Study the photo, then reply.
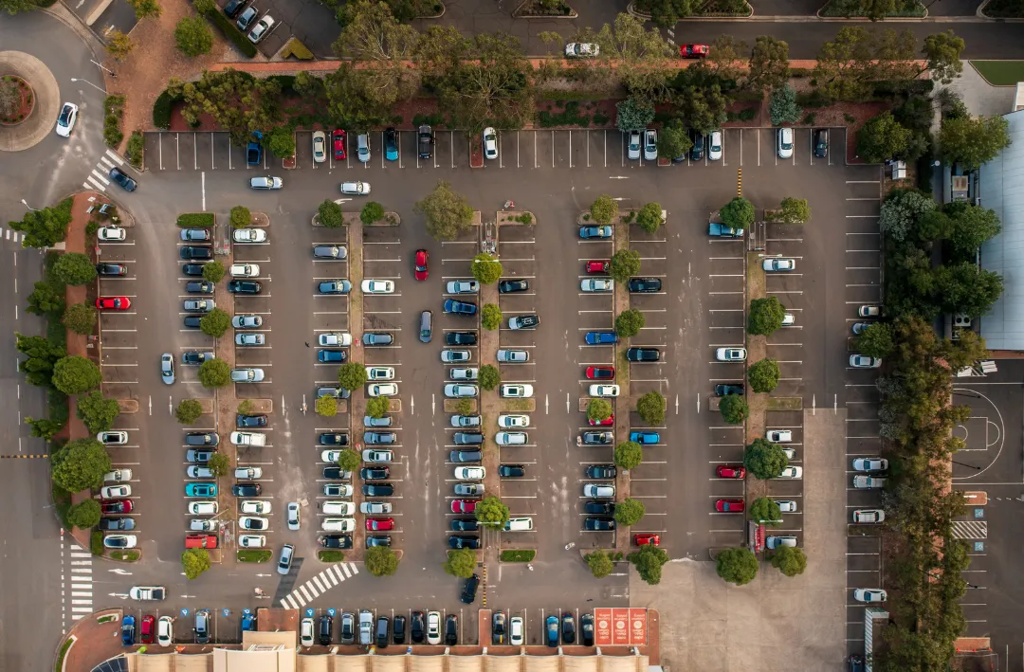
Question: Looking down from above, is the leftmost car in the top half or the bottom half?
top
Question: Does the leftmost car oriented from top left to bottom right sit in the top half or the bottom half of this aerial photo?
top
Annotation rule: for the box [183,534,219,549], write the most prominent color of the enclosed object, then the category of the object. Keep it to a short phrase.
red vehicle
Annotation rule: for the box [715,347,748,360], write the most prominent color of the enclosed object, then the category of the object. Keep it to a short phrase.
white vehicle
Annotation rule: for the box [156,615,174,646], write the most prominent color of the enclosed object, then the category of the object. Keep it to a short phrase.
white car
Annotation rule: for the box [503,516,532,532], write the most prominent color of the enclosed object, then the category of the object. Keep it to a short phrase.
white vehicle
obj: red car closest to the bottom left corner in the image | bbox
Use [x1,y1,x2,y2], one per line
[139,614,156,644]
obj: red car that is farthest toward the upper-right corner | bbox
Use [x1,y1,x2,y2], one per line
[680,42,710,58]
